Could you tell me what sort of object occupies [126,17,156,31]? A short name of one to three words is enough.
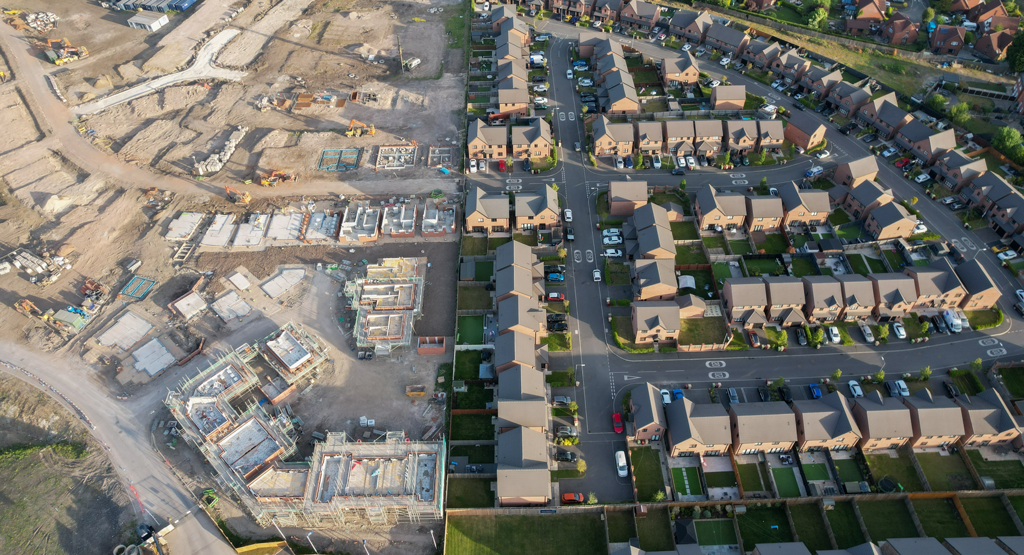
building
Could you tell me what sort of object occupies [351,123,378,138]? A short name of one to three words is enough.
work vehicle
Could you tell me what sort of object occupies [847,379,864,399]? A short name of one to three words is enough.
car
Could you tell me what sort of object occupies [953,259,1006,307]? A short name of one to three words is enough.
house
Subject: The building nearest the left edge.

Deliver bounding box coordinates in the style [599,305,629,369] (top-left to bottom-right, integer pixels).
[51,307,85,332]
